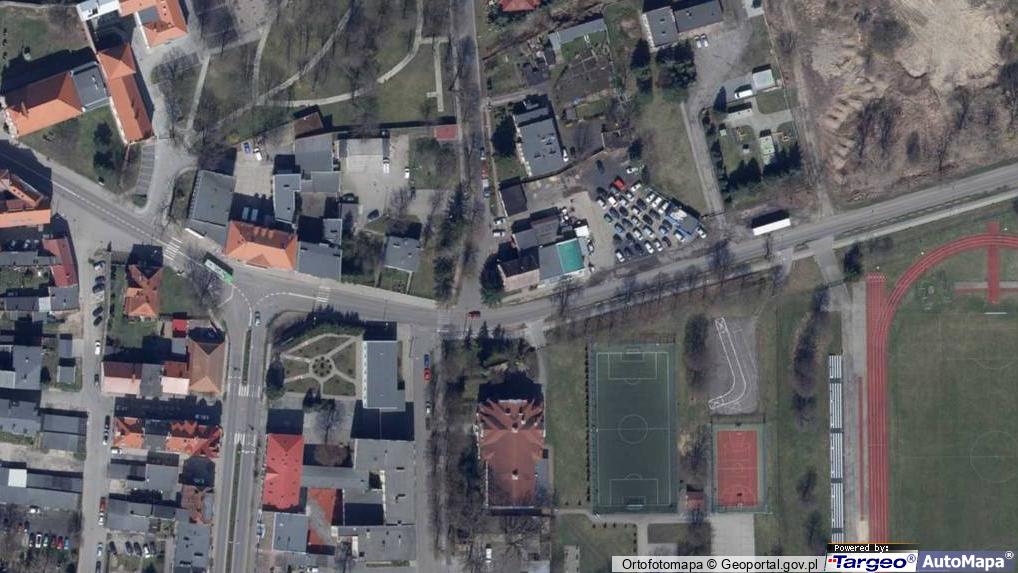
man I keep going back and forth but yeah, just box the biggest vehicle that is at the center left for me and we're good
[203,260,234,285]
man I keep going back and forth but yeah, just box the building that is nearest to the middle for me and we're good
[499,252,541,290]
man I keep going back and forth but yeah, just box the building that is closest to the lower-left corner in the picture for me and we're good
[0,466,83,510]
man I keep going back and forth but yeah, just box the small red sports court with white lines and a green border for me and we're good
[713,424,766,513]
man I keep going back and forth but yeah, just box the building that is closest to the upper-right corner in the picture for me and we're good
[751,70,775,90]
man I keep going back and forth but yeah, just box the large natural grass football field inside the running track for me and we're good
[893,312,1018,573]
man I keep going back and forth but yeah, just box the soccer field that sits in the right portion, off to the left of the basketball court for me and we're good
[590,344,678,514]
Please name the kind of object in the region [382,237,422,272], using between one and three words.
house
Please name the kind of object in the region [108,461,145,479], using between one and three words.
shed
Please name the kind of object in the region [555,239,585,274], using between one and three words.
building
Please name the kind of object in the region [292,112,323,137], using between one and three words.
shed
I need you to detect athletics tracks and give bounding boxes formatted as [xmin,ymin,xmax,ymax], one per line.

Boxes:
[858,222,1018,573]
